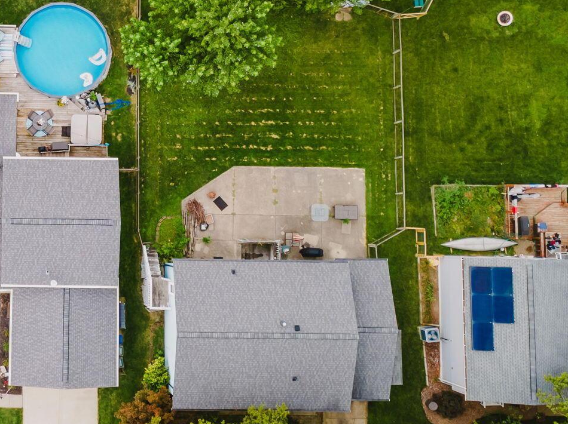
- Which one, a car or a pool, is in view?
pool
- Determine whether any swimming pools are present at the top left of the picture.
Yes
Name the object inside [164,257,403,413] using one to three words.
house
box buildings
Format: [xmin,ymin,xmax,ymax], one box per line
[164,257,403,413]
[0,92,121,389]
[440,251,568,408]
